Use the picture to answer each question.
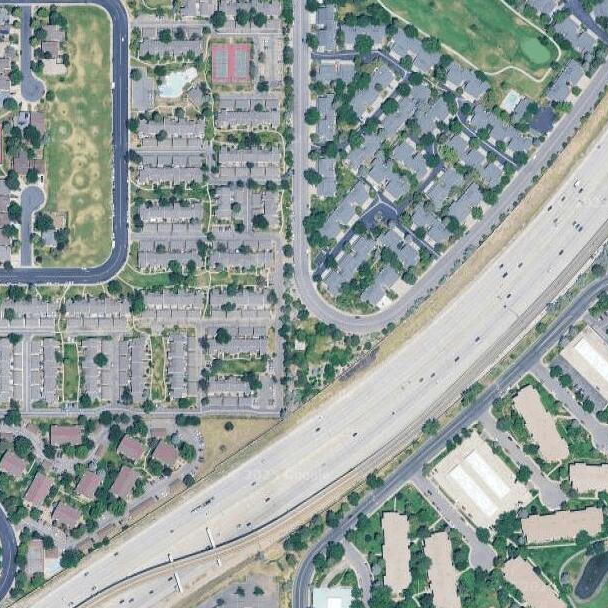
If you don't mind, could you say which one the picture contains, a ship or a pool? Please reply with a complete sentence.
I can see a pool in this picture.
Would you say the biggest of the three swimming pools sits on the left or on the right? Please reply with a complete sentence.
It is on the left.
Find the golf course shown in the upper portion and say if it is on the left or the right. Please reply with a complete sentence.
The golf course shown in the upper portion sits on the right side.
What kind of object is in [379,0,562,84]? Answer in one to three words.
golf course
